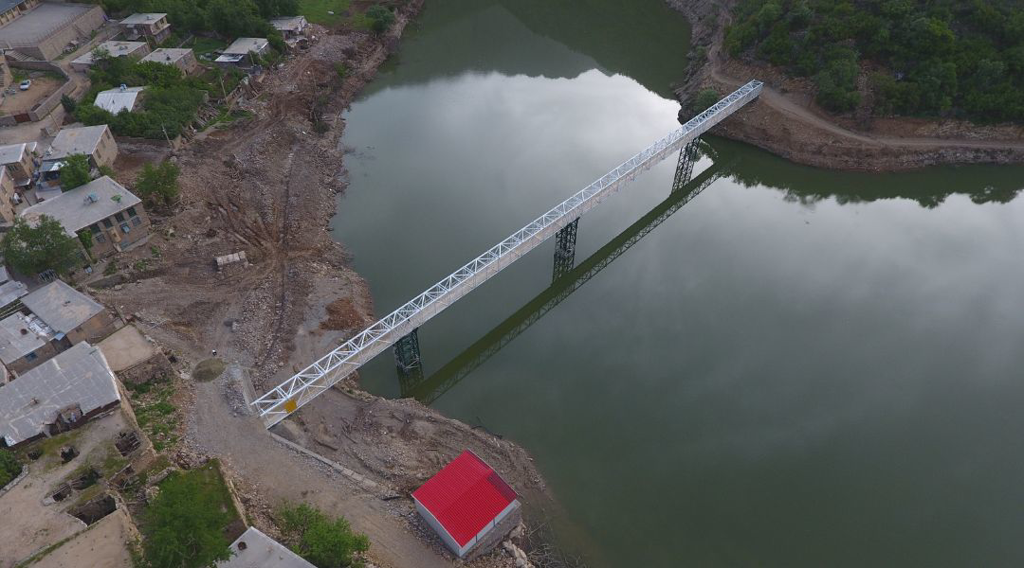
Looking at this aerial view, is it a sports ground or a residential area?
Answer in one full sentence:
This looks like a residential area.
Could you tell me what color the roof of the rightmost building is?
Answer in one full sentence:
The color of the roof on the rightmost building is red.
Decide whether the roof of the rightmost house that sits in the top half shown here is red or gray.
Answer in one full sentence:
The roof of the rightmost house that sits in the top half is gray.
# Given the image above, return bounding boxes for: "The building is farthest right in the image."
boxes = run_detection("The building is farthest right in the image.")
[411,449,526,565]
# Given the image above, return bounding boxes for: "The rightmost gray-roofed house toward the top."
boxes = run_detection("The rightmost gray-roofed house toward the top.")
[268,15,306,44]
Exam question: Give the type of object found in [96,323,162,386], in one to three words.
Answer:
shed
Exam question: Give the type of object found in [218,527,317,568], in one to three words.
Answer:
house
